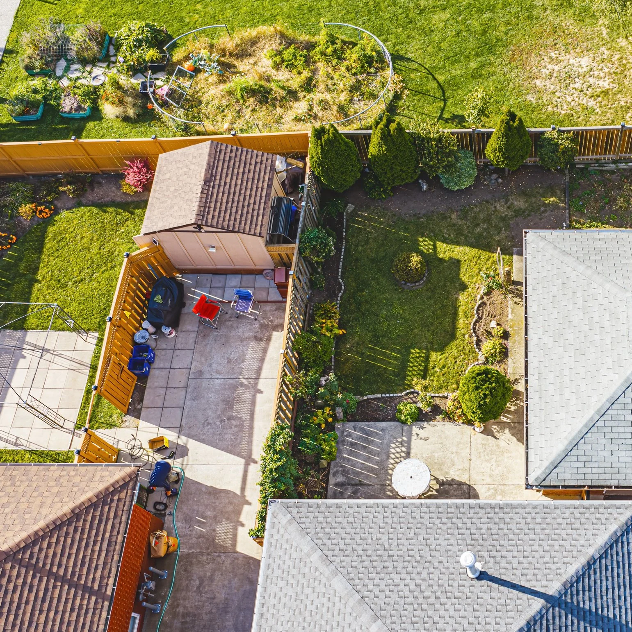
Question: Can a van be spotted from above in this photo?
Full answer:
No, there's no van here.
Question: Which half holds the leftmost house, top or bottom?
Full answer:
It is in the bottom half that the leftmost house appears.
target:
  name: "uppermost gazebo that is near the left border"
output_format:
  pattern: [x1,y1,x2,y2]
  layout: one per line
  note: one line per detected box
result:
[0,308,86,424]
